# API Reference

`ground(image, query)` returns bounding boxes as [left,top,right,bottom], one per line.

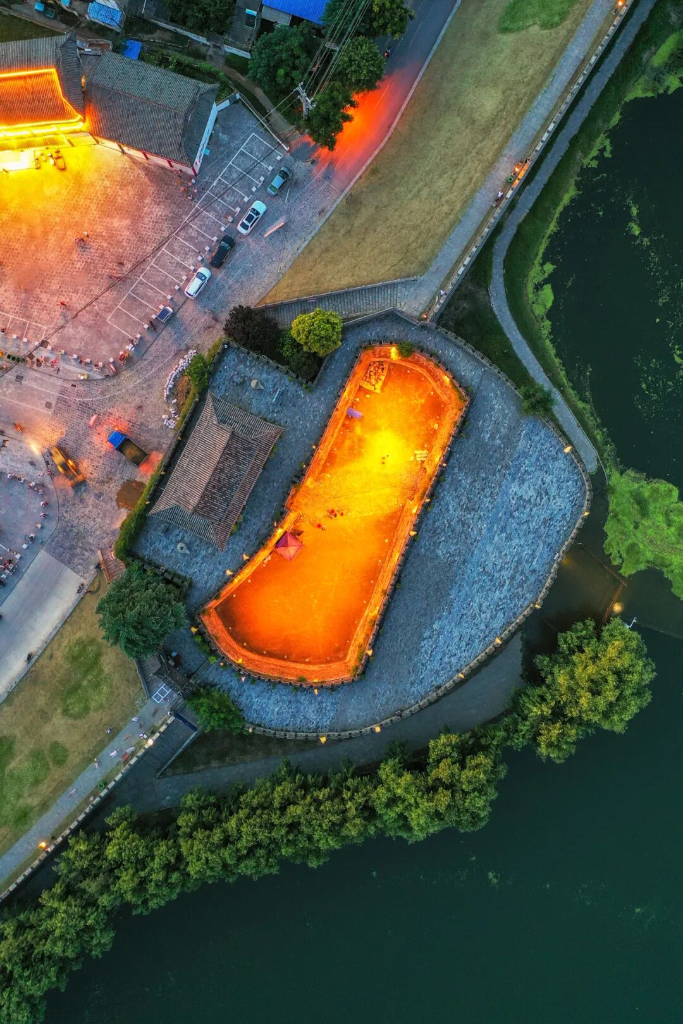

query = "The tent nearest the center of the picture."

[275,530,302,561]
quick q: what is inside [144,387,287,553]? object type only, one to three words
building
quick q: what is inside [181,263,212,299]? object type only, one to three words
car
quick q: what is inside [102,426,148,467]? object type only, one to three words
truck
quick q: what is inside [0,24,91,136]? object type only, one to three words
building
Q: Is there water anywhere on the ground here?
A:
Yes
